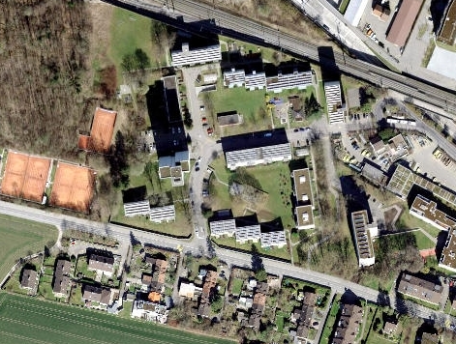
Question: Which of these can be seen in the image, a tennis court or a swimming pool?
tennis court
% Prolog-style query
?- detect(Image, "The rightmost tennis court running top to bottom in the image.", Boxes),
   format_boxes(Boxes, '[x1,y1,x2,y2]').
[91,109,117,153]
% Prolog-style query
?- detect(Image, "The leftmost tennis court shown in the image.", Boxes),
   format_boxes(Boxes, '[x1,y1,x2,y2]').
[0,152,51,203]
